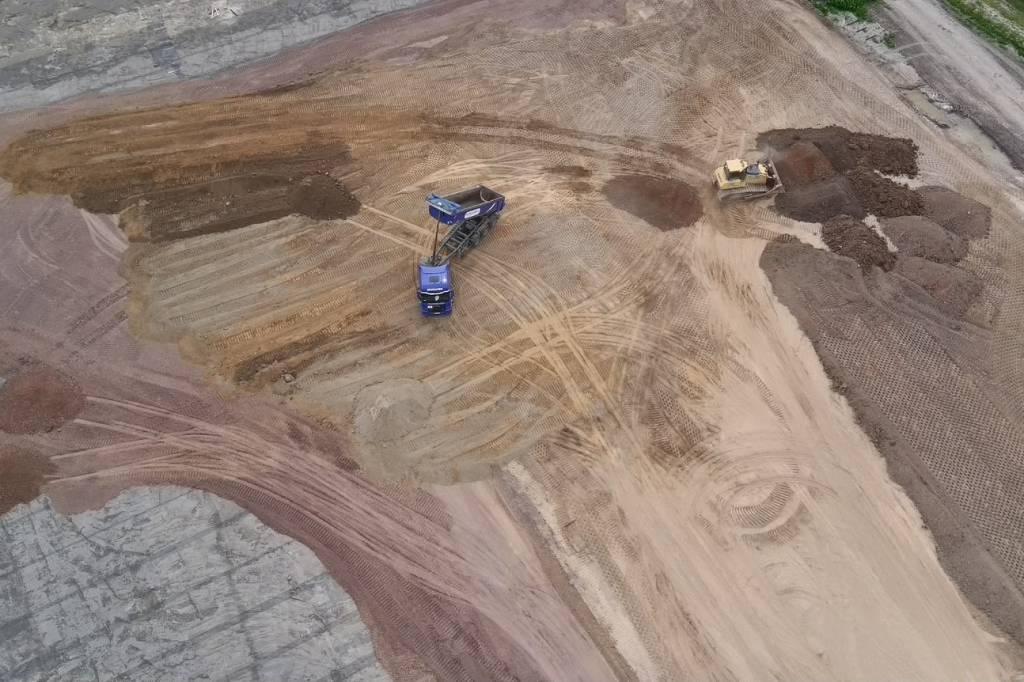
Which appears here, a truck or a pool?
truck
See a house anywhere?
No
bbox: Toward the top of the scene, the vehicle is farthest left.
[415,182,505,312]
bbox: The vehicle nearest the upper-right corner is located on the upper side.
[706,153,784,200]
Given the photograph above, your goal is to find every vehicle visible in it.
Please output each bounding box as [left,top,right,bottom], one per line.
[415,182,505,312]
[706,153,784,200]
